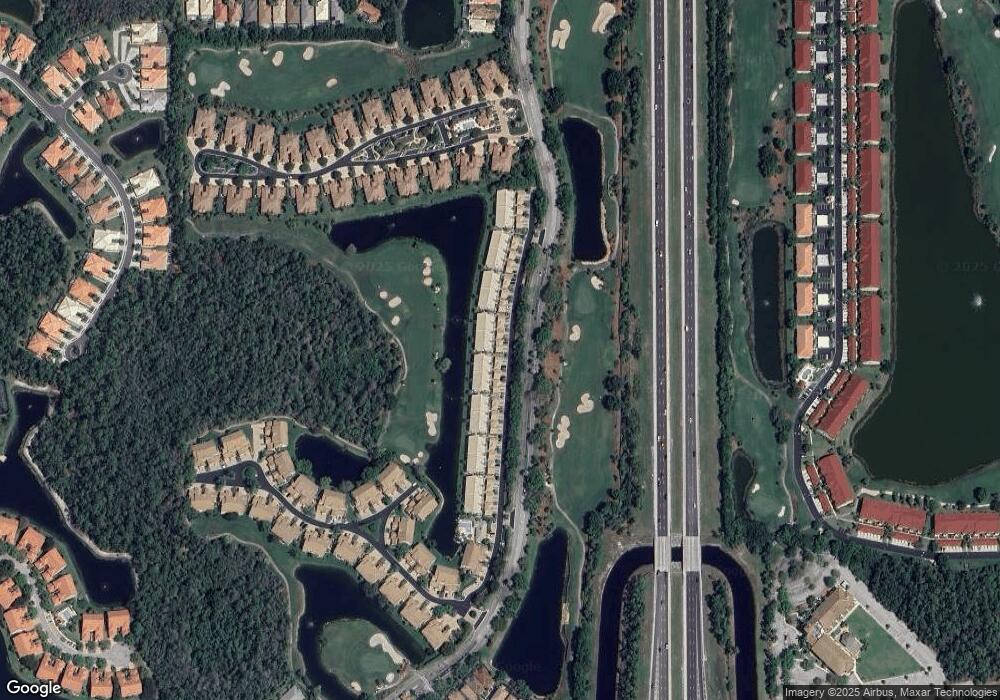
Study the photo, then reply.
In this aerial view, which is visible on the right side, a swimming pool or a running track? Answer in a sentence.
It is a swimming pool that can be seen on the right side.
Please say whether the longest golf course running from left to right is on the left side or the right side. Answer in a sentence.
It is on the left.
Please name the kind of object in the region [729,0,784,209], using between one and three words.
golf course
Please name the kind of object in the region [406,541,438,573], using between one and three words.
house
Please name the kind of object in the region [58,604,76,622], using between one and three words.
swimming pool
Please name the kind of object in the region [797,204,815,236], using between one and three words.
building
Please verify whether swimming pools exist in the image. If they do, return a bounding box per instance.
[796,363,816,385]
[454,117,478,131]
[459,517,473,537]
[58,604,76,622]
